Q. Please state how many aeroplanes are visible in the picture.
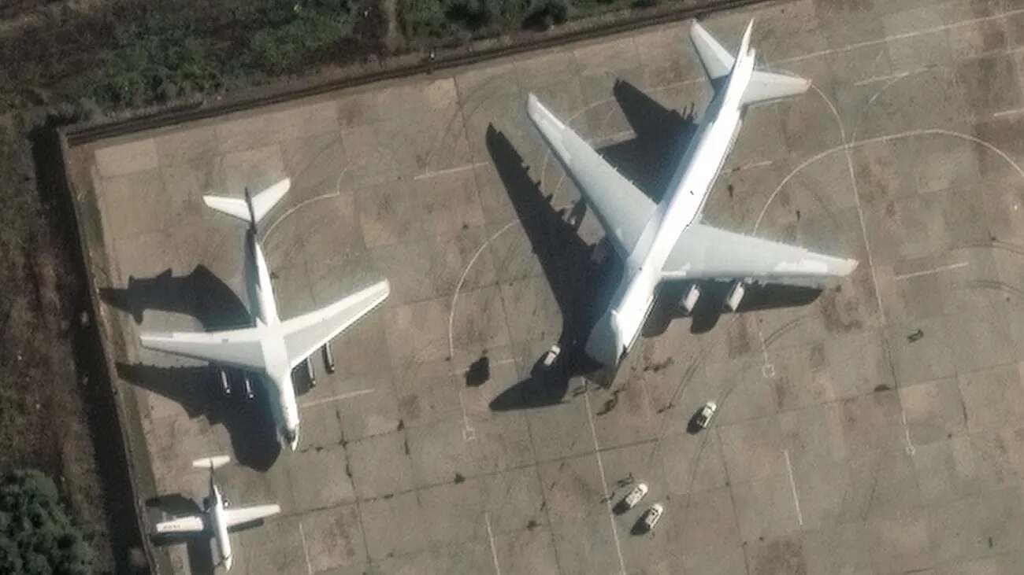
three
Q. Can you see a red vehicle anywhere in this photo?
No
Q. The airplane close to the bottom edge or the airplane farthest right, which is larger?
the airplane farthest right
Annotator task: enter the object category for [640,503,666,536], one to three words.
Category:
car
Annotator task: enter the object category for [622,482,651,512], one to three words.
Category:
car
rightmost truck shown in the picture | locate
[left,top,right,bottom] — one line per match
[694,401,718,433]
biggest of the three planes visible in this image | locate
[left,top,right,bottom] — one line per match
[529,20,857,393]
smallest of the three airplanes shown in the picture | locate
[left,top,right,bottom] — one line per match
[157,456,280,573]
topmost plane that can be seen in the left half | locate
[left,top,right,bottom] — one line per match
[141,179,388,451]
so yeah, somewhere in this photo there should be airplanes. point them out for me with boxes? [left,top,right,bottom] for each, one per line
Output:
[141,179,388,451]
[157,456,280,573]
[529,20,857,393]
